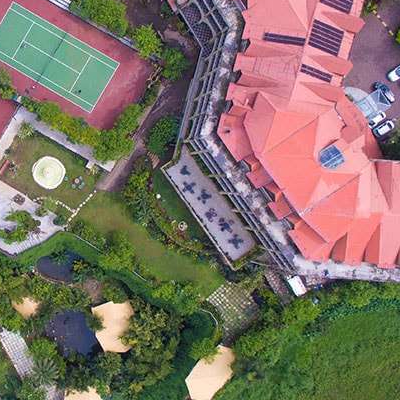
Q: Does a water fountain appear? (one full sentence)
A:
Yes, a water fountain appears in the view.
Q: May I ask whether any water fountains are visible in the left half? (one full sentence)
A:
Yes, I can see a water fountain in the left half.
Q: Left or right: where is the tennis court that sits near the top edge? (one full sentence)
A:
The tennis court that sits near the top edge is on the left side of the image.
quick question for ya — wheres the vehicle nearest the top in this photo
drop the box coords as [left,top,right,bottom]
[384,65,400,82]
